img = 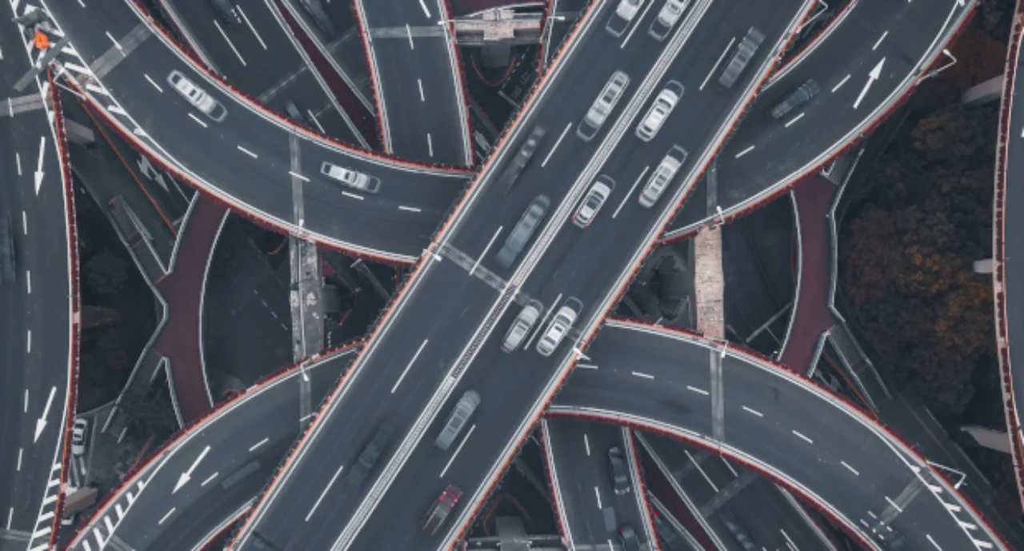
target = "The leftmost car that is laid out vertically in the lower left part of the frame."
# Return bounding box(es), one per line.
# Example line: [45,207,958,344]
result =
[76,418,93,454]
